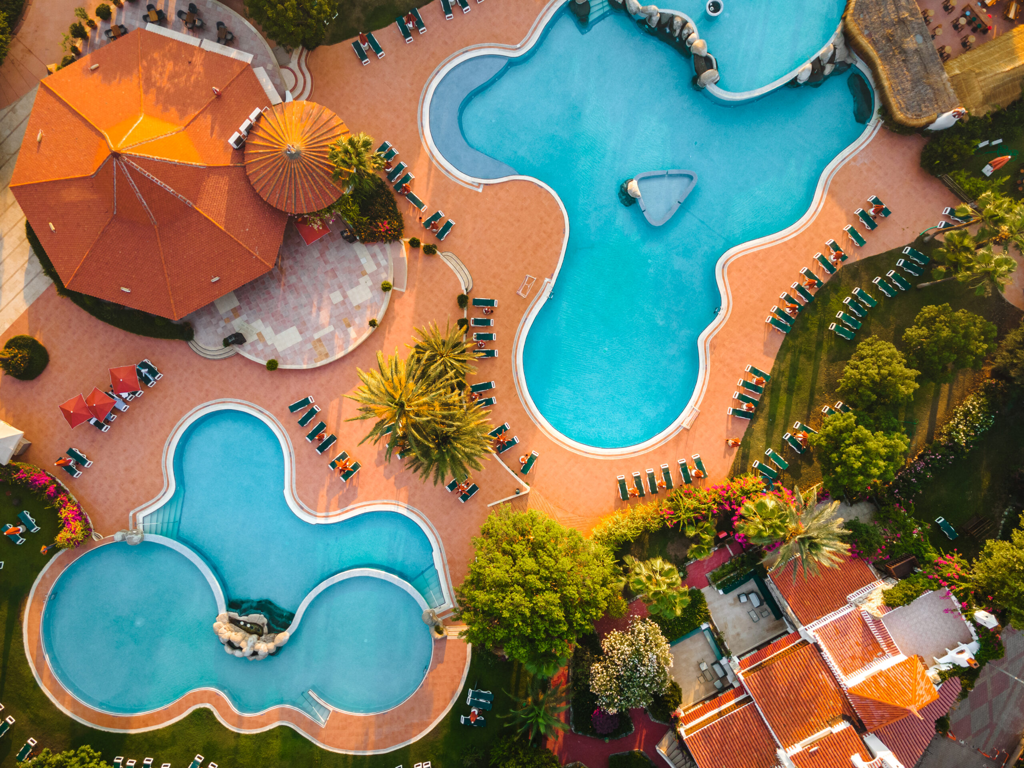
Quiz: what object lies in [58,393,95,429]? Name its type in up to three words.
umbrella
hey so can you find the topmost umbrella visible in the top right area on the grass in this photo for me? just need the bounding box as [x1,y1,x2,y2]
[985,158,1012,174]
